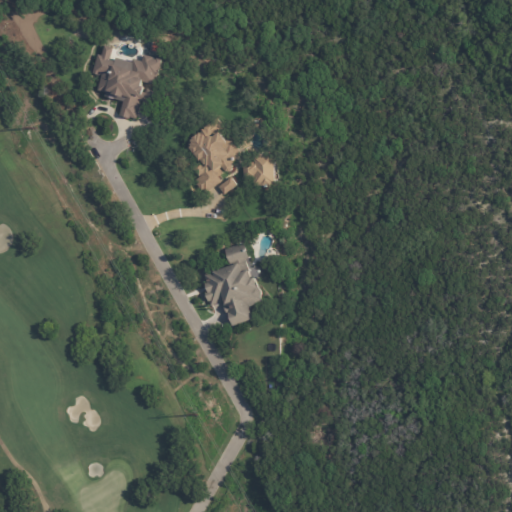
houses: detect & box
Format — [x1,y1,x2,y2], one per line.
[188,122,240,188]
[204,246,262,326]
[95,44,165,122]
[244,158,276,187]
